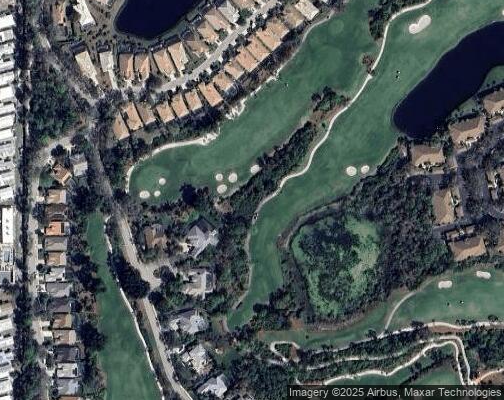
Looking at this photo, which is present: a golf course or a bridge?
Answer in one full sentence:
Looking from above, you can make out a golf course.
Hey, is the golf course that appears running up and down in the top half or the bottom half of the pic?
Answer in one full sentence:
The golf course that appears running up and down sits in the bottom half of the picture.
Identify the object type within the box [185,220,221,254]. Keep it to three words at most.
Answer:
house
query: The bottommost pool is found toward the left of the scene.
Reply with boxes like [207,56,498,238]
[0,246,14,266]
